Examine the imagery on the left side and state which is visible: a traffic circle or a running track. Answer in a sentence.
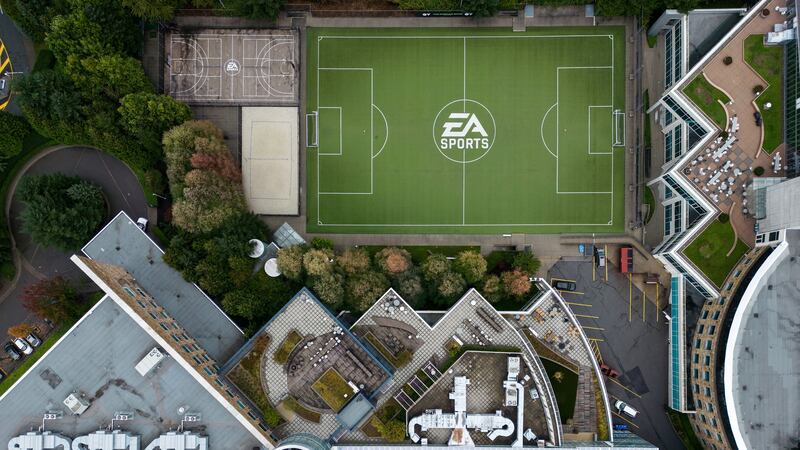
It is a traffic circle that can be seen on the left side.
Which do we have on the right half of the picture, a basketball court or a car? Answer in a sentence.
It is a car that can be seen on the right half of the picture.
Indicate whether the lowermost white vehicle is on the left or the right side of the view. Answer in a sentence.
It is on the right.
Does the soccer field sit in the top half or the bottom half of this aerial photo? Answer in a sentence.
Seen from above, the soccer field lies in the top half of the view.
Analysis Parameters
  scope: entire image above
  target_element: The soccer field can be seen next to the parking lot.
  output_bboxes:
[307,27,625,234]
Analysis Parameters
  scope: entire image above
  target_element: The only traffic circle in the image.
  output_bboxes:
[6,145,148,262]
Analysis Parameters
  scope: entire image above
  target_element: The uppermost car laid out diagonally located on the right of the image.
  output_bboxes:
[600,362,620,379]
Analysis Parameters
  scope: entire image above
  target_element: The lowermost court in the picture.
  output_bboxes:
[241,106,298,215]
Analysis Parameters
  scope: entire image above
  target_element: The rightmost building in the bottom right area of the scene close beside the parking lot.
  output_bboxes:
[688,230,800,450]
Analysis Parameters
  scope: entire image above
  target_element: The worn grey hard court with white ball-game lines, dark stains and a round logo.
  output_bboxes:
[165,27,299,104]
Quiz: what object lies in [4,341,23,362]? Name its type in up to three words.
car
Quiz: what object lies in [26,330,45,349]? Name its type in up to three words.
car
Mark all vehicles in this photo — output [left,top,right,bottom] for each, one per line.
[14,336,34,356]
[26,330,45,349]
[555,280,577,291]
[613,398,638,418]
[600,362,620,379]
[0,370,9,385]
[4,341,23,362]
[135,214,151,232]
[597,247,606,268]
[610,419,628,429]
